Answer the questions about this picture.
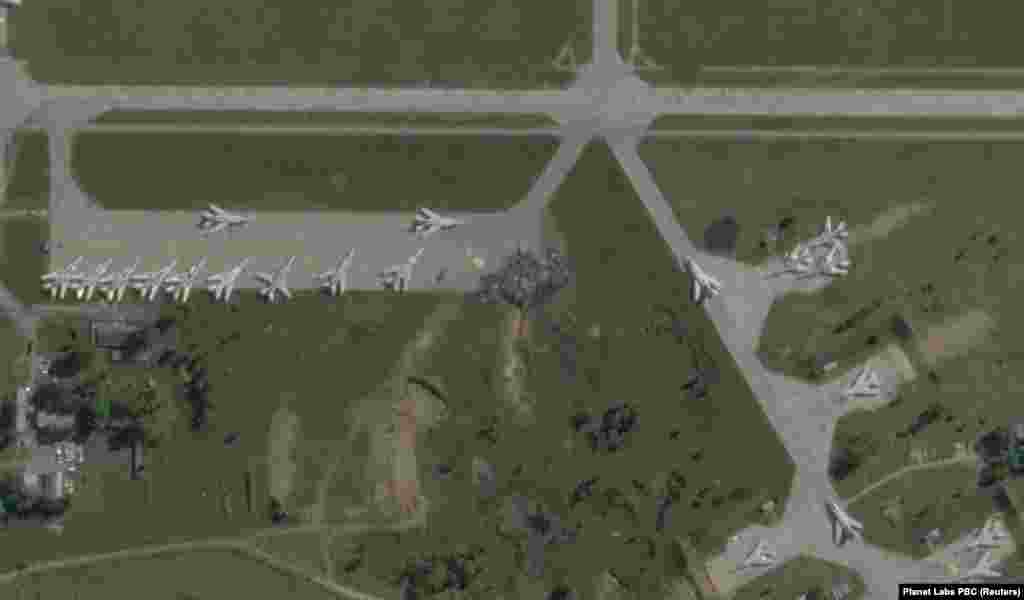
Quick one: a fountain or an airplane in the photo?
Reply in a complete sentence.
The one in the frame is an airplane.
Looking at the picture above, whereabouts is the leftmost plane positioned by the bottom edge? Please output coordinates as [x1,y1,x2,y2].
[734,537,780,571]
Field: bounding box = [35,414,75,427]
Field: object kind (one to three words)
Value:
house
